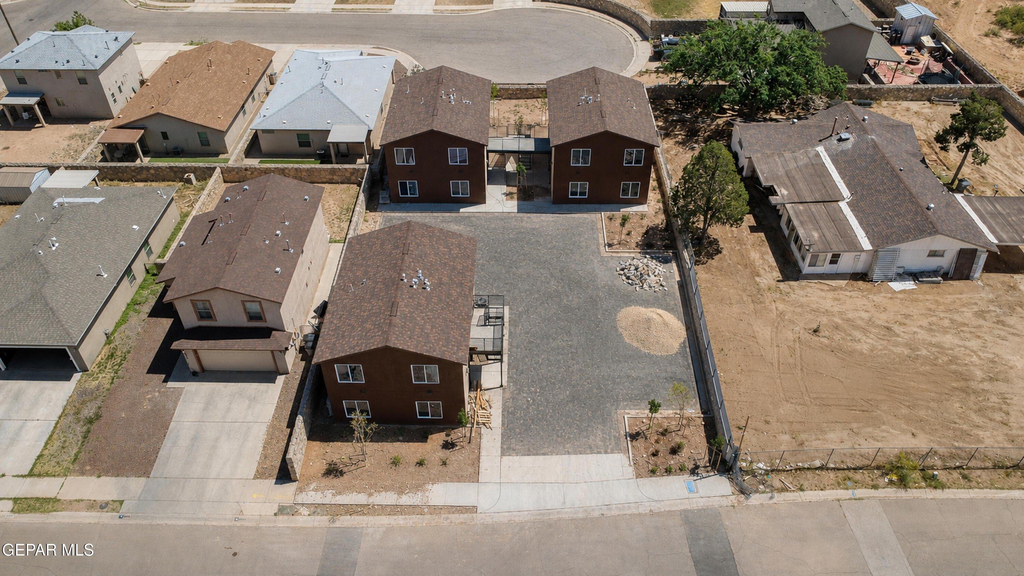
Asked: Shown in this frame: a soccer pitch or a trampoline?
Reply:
trampoline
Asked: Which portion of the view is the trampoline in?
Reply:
top right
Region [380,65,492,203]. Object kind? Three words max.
building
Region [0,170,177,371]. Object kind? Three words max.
house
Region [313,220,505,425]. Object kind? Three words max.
building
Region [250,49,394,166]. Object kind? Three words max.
house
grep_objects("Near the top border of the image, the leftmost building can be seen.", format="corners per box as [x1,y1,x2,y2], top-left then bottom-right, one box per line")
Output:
[0,22,144,127]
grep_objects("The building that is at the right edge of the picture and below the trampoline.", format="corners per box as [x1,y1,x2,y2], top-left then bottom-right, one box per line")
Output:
[734,101,1024,278]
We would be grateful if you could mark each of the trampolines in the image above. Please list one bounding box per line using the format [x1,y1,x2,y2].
[924,60,972,85]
